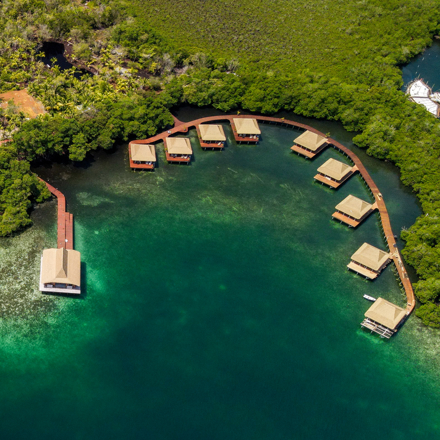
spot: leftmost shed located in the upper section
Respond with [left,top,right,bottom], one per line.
[124,147,156,172]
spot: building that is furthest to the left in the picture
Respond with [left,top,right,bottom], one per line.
[36,249,80,297]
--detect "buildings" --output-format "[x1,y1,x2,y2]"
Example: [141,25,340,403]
[192,126,226,151]
[124,147,156,172]
[227,120,261,144]
[288,133,327,160]
[312,160,353,191]
[355,298,407,342]
[160,139,192,165]
[344,243,390,281]
[36,249,80,297]
[329,197,373,229]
